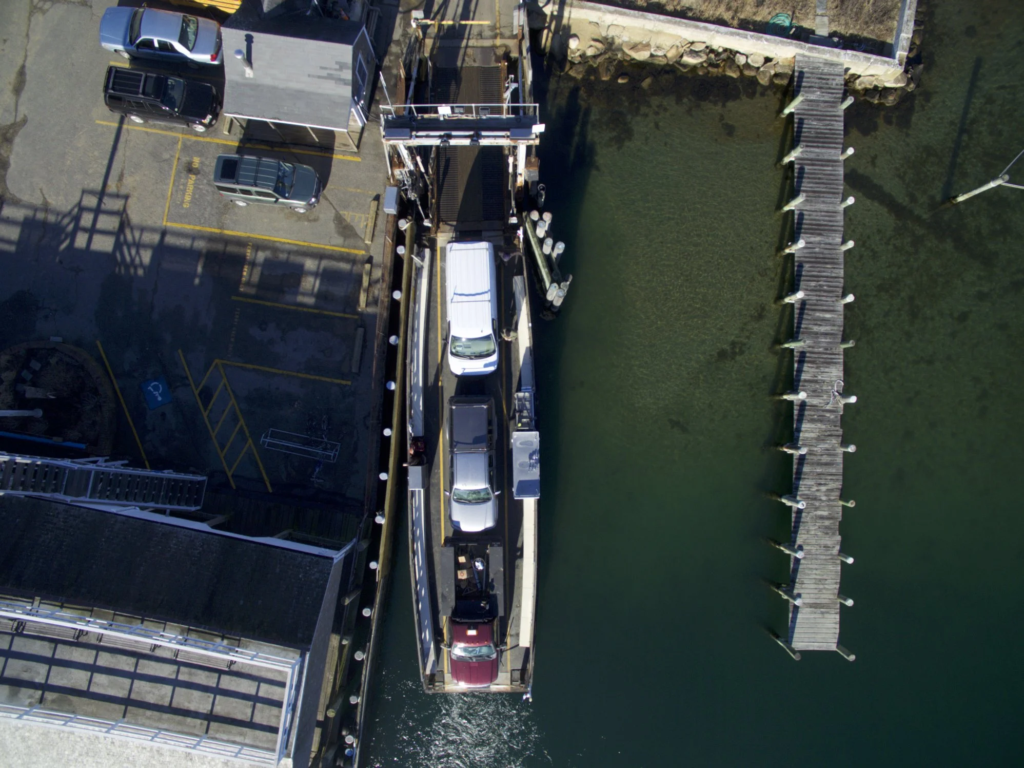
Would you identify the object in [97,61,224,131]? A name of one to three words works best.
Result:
car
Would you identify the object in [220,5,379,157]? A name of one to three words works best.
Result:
shed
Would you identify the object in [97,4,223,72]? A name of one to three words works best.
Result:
car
